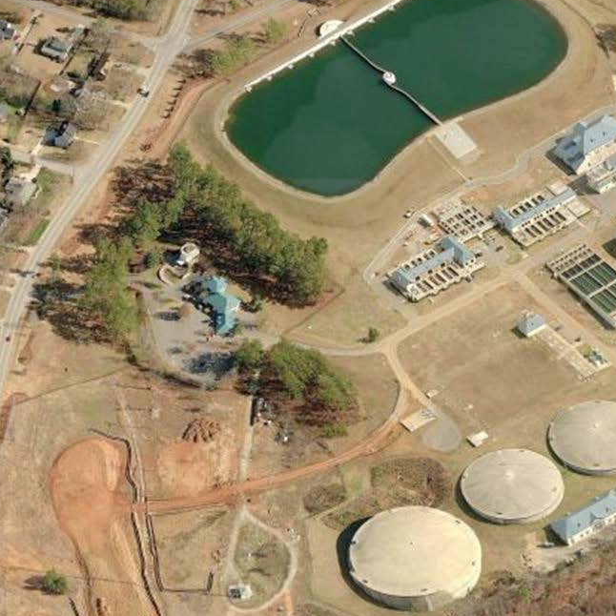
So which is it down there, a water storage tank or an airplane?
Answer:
water storage tank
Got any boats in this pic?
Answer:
No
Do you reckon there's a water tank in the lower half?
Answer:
Yes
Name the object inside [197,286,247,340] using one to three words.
building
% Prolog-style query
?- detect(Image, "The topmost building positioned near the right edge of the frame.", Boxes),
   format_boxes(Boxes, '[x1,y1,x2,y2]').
[541,117,616,179]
